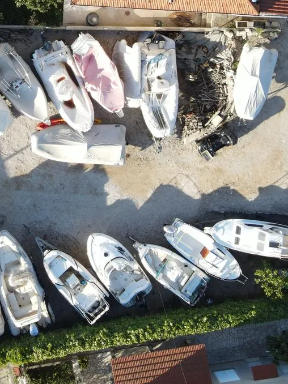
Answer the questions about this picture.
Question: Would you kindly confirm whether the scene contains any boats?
Yes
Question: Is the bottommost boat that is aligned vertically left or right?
left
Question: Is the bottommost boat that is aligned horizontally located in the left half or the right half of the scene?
right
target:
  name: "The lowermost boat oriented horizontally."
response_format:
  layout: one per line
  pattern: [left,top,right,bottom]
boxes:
[206,217,288,261]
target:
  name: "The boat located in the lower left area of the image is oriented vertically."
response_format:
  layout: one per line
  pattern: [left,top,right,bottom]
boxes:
[0,232,49,342]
